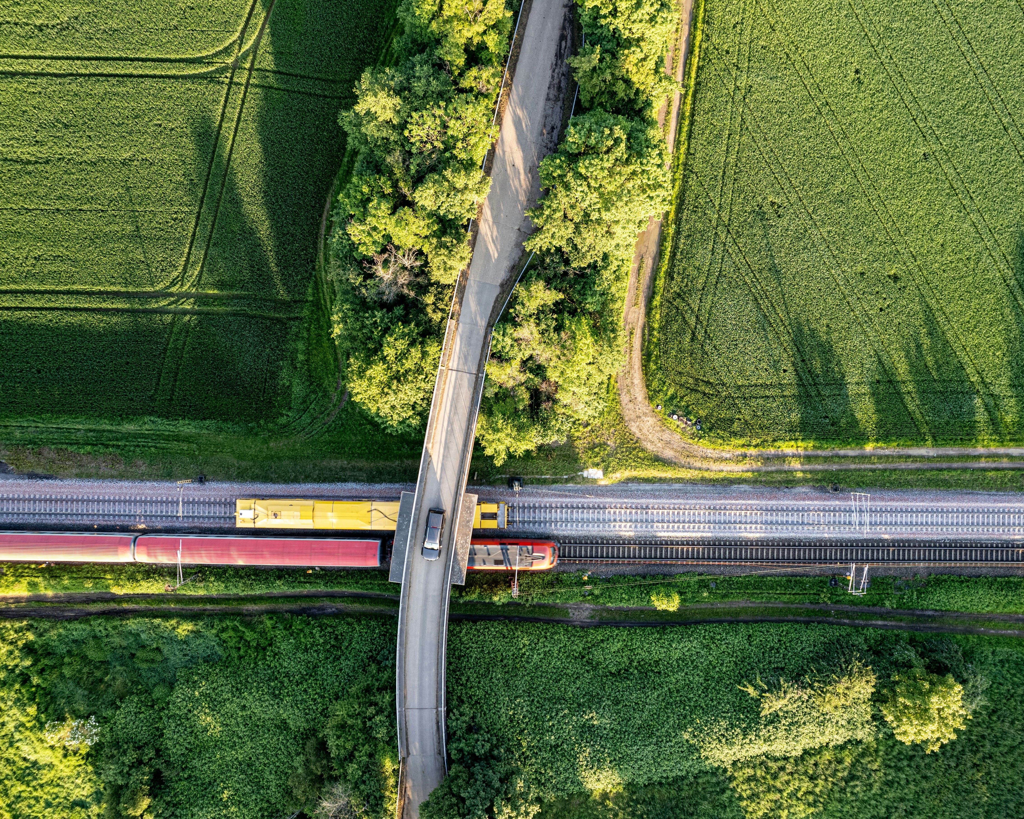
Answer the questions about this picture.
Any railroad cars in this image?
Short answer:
Yes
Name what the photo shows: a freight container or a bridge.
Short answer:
bridge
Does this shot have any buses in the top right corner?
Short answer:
No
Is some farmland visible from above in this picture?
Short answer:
Yes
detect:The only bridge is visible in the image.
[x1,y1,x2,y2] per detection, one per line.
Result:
[389,318,499,765]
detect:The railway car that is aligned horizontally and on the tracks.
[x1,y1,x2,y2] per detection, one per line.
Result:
[467,539,562,570]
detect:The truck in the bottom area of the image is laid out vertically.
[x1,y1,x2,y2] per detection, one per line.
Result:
[421,507,446,560]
